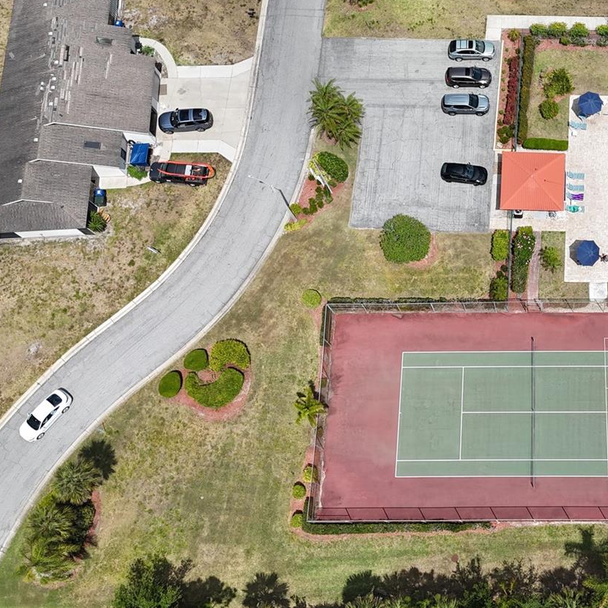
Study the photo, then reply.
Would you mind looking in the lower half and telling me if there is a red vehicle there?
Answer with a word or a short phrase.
No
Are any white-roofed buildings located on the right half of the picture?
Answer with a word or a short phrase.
No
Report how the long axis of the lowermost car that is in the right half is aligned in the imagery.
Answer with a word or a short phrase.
from left to right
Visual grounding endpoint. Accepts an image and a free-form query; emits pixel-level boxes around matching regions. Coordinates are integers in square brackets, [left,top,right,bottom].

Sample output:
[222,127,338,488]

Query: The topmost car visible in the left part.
[160,110,214,135]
